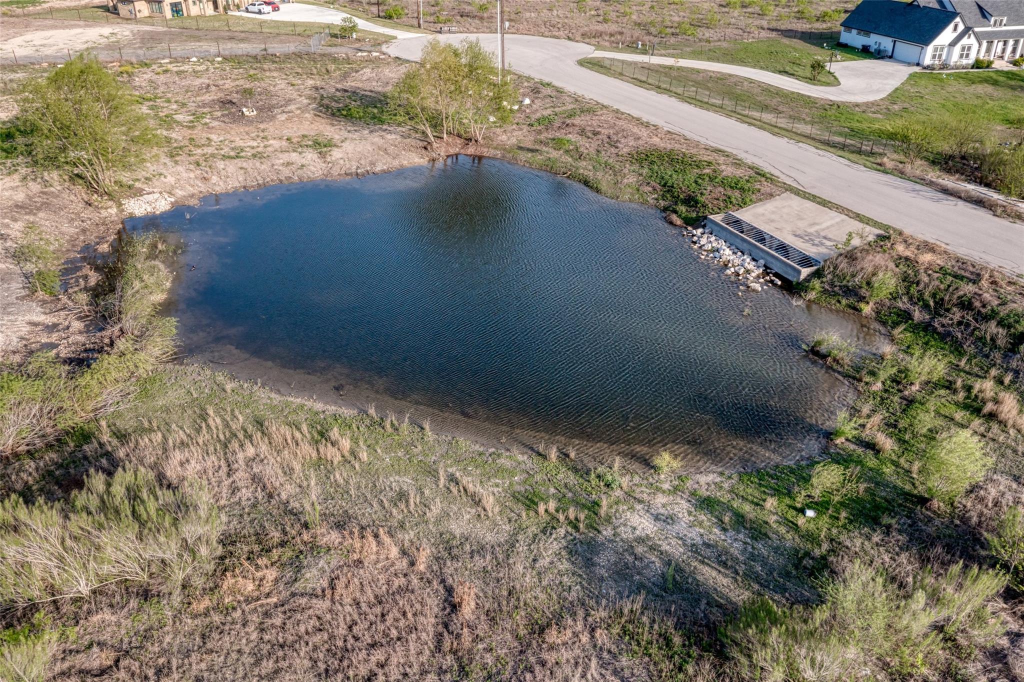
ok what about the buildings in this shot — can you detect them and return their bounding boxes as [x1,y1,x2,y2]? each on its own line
[838,0,1024,66]
[105,0,273,19]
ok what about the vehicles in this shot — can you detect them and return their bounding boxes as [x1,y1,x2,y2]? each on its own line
[264,1,284,12]
[242,1,273,14]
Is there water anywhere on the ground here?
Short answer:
Yes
